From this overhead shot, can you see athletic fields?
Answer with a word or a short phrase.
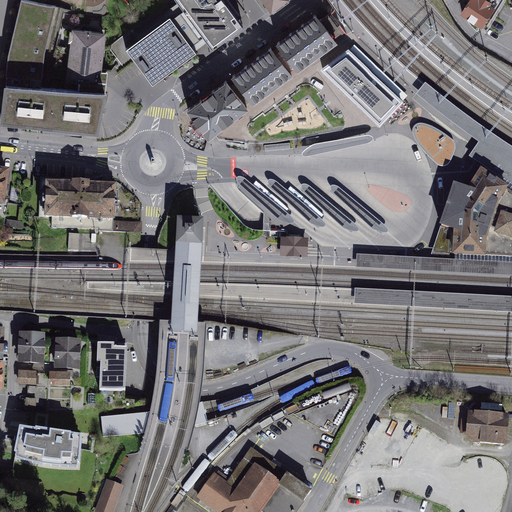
No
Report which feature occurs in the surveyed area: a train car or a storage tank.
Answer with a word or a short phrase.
train car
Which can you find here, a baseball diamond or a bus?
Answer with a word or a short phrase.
bus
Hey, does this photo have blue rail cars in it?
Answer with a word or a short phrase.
Yes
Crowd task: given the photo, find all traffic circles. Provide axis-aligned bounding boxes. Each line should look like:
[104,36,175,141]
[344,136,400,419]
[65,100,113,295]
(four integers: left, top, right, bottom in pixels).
[130,138,176,184]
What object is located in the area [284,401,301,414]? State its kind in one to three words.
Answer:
rail car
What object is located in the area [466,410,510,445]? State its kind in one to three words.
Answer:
house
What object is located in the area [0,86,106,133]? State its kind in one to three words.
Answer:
building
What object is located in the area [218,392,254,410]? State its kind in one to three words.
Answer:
rail car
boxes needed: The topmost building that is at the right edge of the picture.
[460,0,500,28]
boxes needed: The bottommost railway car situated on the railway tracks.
[170,491,185,508]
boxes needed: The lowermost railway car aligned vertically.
[160,384,172,422]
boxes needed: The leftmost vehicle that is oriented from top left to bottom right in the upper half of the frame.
[252,178,292,212]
